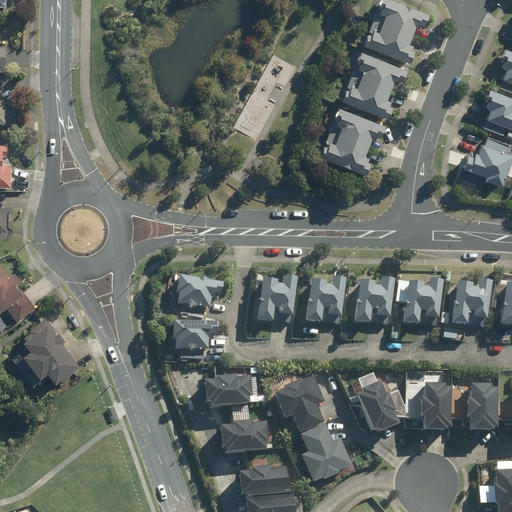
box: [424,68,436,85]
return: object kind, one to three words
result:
vehicle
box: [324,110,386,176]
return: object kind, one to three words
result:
house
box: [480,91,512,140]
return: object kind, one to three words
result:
house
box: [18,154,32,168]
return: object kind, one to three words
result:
vehicle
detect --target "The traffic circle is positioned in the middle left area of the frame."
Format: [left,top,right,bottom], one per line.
[56,204,109,256]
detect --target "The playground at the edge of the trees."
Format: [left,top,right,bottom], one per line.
[234,54,298,142]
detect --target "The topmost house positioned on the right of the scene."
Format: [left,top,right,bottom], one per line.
[365,0,431,64]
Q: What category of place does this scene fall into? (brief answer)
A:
residential area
